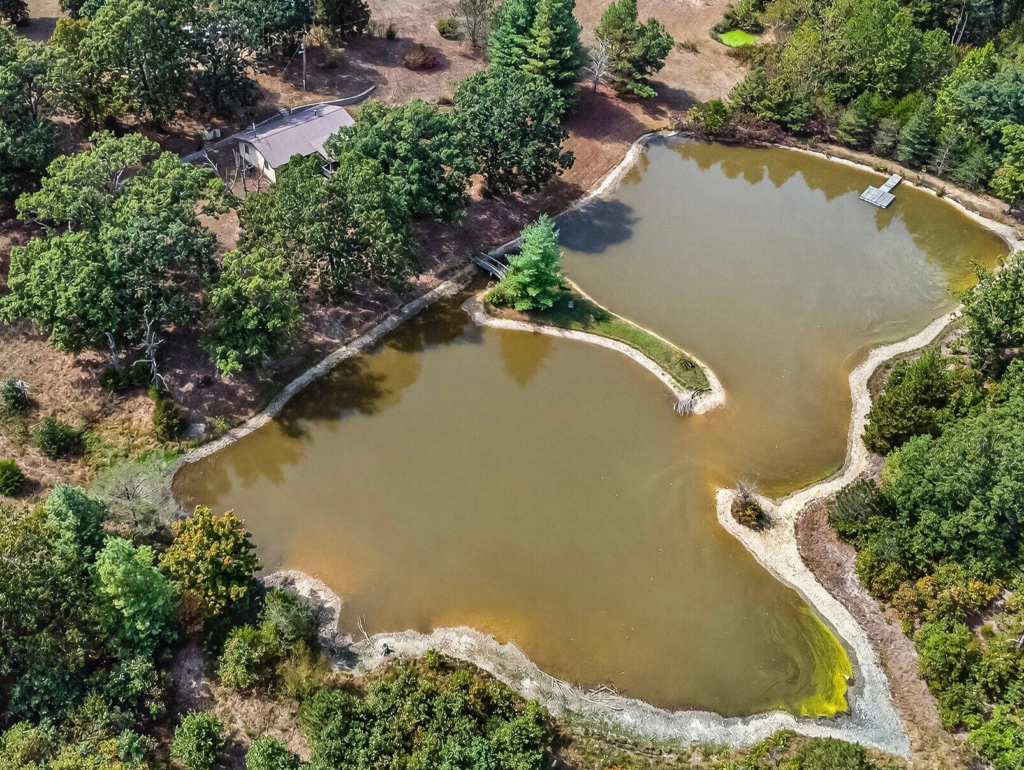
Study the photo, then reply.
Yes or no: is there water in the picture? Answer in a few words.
Yes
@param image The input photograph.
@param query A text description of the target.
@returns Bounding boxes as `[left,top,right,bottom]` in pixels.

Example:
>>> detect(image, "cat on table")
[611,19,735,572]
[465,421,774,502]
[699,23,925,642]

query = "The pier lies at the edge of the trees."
[858,172,903,210]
